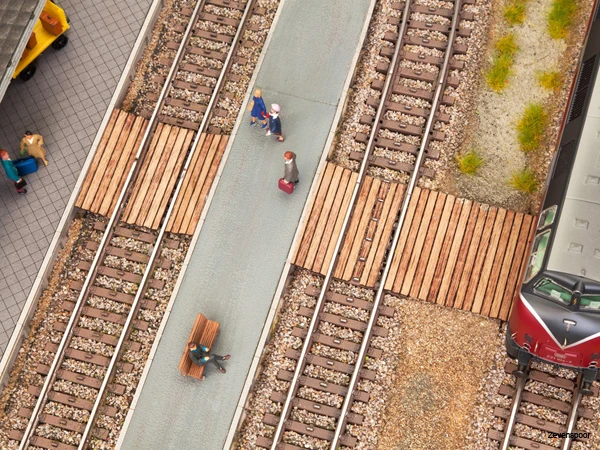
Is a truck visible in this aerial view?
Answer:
No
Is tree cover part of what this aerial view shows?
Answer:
No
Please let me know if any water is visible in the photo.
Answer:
No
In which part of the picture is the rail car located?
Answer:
right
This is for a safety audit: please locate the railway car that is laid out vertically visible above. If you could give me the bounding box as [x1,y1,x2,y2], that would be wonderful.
[506,0,600,396]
